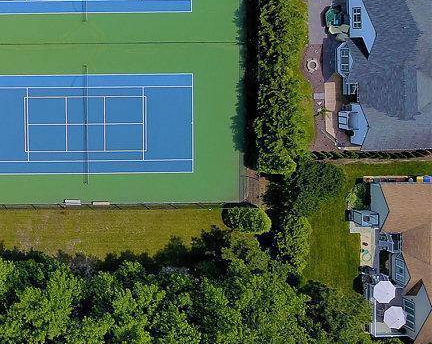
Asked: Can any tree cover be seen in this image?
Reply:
Yes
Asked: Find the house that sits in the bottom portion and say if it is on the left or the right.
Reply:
right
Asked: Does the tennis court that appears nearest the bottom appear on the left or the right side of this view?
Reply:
left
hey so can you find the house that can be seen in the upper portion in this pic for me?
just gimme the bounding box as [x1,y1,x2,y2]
[336,0,432,153]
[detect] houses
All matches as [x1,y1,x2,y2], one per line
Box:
[336,0,432,153]
[354,182,432,342]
